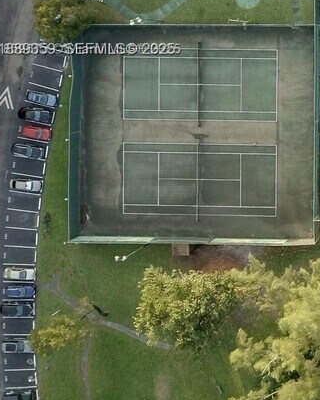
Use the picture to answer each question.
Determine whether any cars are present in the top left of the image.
Yes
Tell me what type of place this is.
sports ground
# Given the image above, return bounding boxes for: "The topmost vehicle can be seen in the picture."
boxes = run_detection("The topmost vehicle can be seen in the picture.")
[27,90,60,107]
